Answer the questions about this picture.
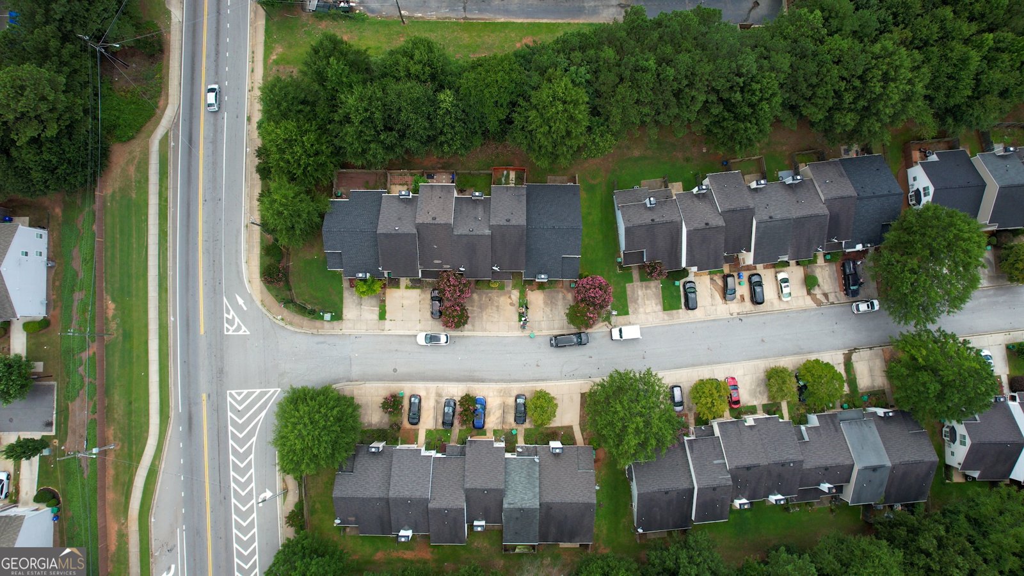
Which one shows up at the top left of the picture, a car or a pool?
car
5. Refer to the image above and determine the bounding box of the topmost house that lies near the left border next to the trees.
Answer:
[0,224,48,321]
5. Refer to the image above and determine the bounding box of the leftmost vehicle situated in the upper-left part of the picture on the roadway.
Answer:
[206,84,222,113]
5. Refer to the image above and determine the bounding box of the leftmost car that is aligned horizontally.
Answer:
[416,331,450,347]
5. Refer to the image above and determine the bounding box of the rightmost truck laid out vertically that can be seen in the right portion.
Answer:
[840,259,862,298]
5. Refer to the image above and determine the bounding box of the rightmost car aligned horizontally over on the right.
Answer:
[848,299,880,315]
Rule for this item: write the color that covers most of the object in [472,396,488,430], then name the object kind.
blue car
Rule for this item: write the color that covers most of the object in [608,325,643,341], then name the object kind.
white vehicle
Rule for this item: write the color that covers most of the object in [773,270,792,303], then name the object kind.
white car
